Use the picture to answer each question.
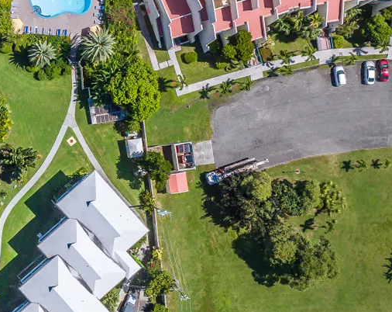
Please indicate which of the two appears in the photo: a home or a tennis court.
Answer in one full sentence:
Looking from above, you can make out a home.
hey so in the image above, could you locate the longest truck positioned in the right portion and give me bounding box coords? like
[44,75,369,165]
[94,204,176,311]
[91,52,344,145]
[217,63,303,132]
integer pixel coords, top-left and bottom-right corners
[204,153,273,181]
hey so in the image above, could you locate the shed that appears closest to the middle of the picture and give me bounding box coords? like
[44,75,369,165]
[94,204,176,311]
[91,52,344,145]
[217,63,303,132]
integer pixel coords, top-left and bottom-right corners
[166,172,188,194]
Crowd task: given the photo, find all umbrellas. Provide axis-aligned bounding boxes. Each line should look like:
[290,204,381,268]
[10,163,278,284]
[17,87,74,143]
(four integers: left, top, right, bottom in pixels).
[11,19,24,32]
[88,23,102,36]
